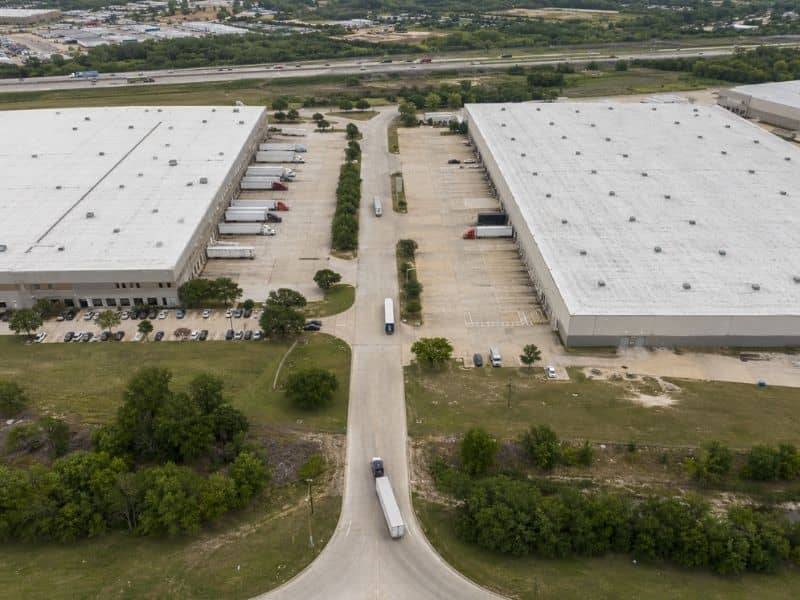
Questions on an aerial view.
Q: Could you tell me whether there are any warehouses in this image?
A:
Yes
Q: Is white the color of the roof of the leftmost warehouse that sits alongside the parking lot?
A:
Yes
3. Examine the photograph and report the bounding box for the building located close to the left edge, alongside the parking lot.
[0,105,269,310]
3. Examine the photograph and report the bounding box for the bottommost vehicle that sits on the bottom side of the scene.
[375,462,404,539]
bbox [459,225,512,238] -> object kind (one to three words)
vehicle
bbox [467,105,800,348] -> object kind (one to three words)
warehouse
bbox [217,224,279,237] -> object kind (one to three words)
vehicle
